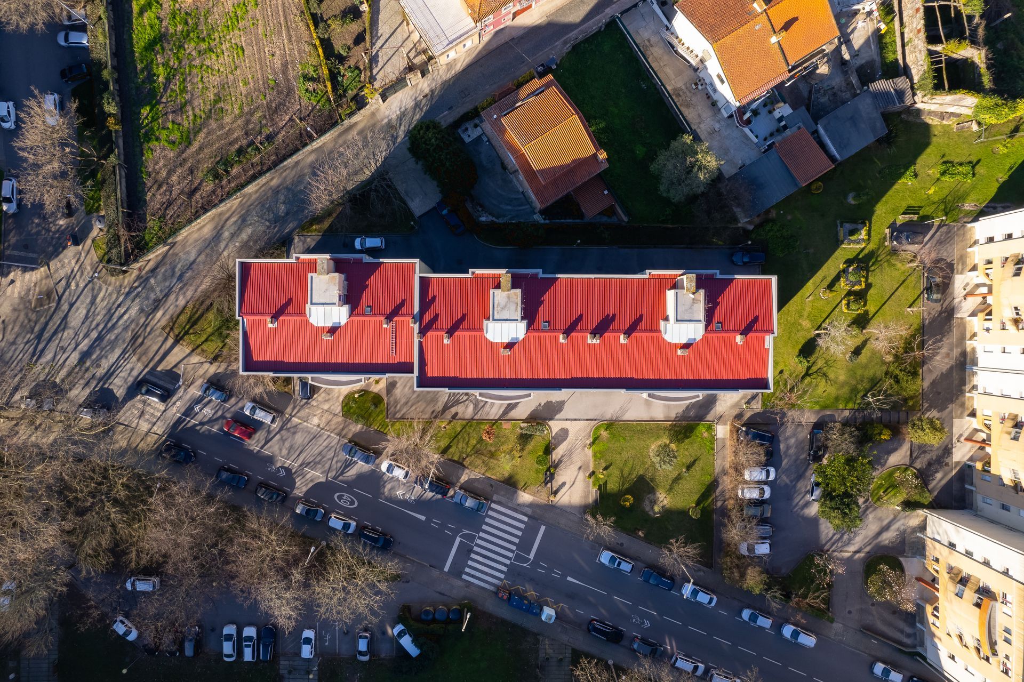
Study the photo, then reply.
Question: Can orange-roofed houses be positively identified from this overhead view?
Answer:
Yes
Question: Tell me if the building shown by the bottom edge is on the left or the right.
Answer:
right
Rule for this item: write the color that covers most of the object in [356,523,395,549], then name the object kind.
black car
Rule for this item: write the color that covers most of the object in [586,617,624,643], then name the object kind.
black car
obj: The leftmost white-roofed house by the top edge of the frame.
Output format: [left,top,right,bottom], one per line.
[397,0,482,66]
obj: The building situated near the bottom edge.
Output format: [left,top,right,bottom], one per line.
[913,510,1024,682]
